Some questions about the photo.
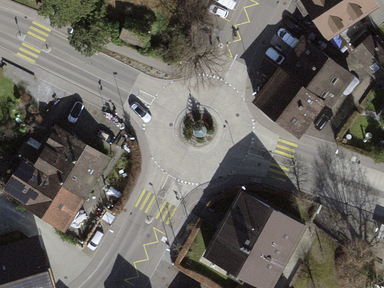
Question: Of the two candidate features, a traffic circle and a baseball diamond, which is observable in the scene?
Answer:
traffic circle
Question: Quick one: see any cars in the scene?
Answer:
Yes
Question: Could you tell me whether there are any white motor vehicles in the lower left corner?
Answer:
Yes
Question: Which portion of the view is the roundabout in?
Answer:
center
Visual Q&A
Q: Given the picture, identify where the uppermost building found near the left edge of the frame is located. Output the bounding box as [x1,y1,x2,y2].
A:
[4,124,110,230]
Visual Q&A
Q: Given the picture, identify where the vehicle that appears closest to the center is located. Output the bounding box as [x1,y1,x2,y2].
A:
[131,99,151,120]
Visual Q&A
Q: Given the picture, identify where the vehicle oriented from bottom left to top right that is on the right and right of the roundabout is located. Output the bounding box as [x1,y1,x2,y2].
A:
[314,106,332,130]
